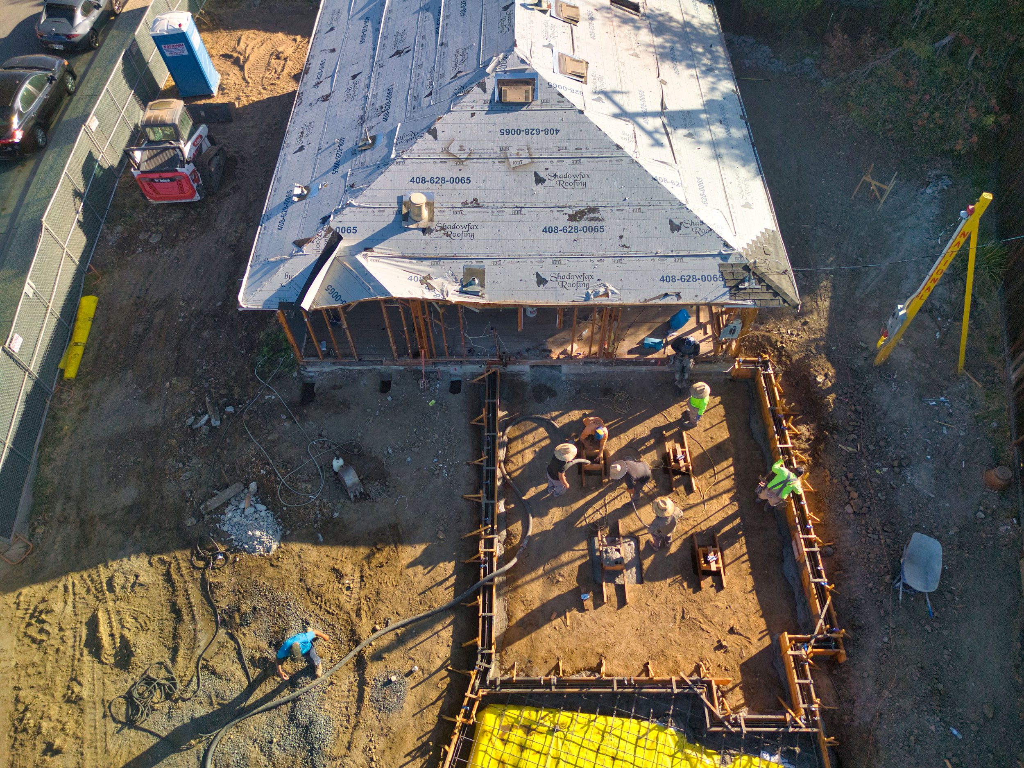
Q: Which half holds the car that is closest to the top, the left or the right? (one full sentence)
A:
You can find the car that is closest to the top on the left side of the picture.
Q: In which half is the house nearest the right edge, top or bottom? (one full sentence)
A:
It is in the top half that the house nearest the right edge appears.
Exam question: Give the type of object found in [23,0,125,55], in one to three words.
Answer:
car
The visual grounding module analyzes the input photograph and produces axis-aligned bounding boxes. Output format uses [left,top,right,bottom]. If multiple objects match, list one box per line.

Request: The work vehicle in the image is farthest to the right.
[108,87,239,199]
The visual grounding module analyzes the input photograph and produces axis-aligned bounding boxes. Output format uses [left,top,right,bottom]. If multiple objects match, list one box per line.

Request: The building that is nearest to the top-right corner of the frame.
[236,0,806,393]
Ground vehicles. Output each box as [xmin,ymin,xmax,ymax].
[108,87,239,199]
[23,0,125,55]
[0,54,76,154]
